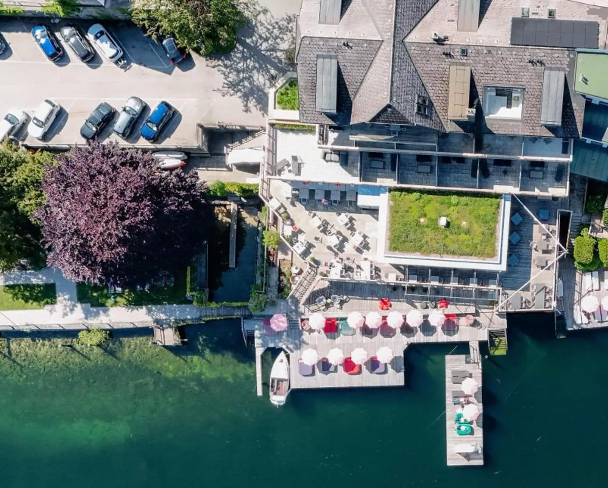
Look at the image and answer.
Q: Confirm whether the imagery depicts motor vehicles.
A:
Yes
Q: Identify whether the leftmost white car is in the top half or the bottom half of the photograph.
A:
top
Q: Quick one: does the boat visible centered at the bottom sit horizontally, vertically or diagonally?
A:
vertically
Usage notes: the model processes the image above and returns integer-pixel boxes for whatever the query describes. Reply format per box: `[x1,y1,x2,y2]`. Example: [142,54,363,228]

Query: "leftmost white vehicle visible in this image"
[0,103,30,144]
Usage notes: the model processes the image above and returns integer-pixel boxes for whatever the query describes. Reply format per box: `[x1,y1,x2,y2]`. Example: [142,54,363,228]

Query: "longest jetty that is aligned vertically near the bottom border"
[445,355,484,466]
